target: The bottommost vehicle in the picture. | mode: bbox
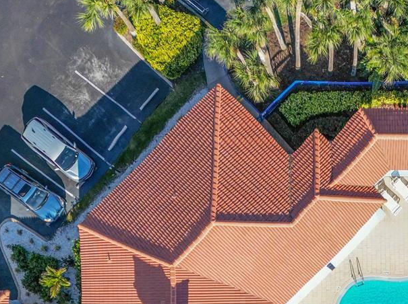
[0,163,69,224]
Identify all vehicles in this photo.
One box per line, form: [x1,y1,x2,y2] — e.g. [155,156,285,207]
[23,118,101,184]
[0,163,69,224]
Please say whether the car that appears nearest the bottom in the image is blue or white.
blue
